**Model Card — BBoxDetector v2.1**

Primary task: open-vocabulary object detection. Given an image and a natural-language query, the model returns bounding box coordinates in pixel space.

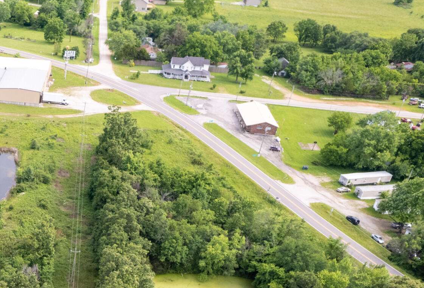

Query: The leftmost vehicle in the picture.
[42,91,72,106]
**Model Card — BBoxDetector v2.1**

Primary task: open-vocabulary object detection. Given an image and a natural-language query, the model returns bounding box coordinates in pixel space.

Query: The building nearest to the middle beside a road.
[234,100,279,136]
